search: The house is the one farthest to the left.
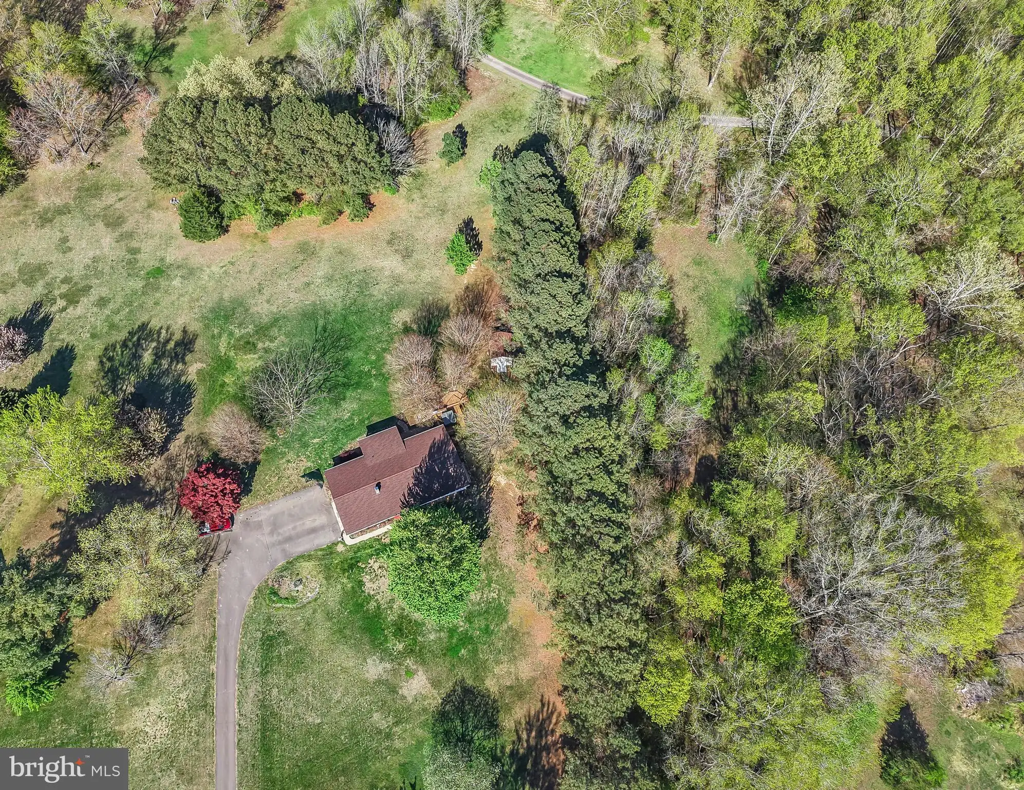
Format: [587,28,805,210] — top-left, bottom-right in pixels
[324,424,469,535]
